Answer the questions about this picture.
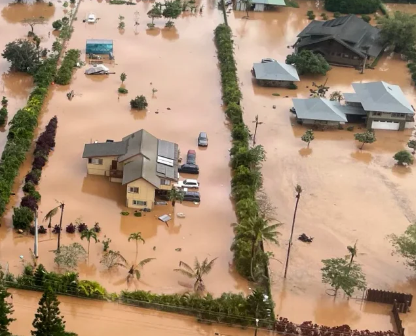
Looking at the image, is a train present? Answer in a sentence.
No, I can see no train in this picture.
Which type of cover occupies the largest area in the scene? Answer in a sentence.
For the most part, this view shows water.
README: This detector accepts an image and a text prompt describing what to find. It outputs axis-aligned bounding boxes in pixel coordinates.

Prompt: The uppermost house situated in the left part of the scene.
[83,129,179,207]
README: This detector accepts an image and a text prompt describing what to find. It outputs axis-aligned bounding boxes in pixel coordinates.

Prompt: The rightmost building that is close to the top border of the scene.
[295,10,387,68]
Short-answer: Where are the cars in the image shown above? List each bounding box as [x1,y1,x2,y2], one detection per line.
[197,132,206,145]
[177,163,200,174]
[178,179,200,189]
[154,192,175,201]
[285,108,296,117]
[186,150,196,162]
[177,192,202,202]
